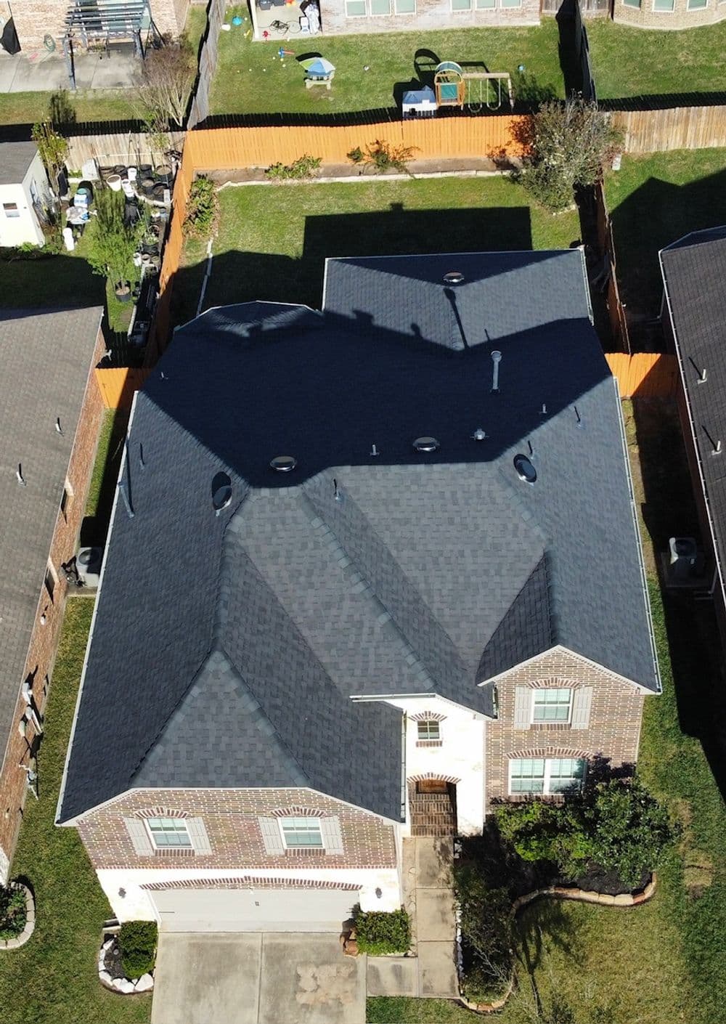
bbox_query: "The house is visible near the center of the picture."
[49,249,666,933]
